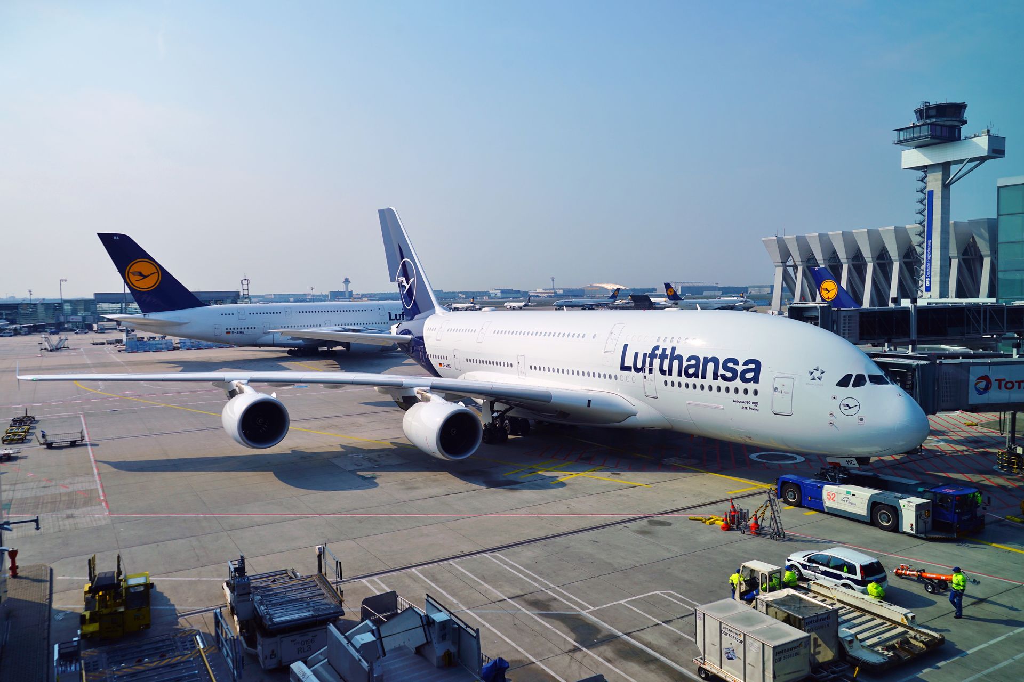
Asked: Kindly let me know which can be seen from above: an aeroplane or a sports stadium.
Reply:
aeroplane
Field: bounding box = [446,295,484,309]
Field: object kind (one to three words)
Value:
airplane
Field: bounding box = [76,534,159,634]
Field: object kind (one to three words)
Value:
work vehicle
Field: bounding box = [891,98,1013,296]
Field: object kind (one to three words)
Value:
building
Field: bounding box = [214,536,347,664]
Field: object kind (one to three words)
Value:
work vehicle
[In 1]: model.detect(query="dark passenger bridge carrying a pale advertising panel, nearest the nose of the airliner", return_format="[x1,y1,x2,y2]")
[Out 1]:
[869,357,1024,473]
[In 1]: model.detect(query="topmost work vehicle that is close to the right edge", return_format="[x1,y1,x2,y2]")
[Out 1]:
[774,469,1010,545]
